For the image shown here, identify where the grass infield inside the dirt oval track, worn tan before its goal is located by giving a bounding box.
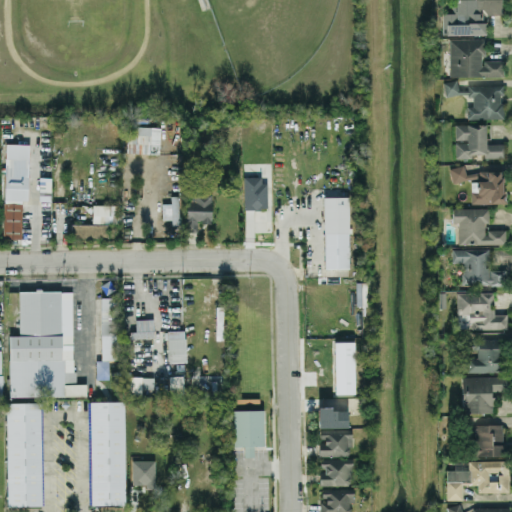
[11,0,144,81]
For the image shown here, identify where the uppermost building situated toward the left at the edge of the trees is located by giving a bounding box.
[128,128,161,155]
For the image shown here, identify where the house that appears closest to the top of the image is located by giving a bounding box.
[444,0,504,36]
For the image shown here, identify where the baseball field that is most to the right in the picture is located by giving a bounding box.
[209,0,338,95]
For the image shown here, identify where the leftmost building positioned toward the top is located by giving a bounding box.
[4,144,30,240]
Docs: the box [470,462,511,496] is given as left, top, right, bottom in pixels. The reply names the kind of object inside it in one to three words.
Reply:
house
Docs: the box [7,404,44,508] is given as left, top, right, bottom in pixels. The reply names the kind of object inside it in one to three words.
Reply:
building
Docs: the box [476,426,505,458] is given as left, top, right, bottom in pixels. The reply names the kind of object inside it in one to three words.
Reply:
house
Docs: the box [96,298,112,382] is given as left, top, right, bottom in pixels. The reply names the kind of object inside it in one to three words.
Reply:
shed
